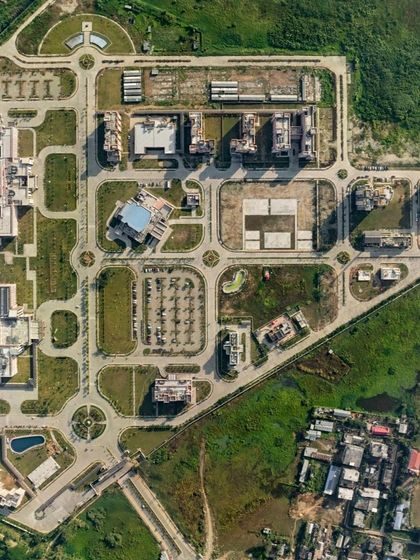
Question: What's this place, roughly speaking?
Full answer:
This looks like a residential area.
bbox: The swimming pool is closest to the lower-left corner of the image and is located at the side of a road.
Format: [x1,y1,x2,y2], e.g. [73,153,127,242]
[10,436,45,452]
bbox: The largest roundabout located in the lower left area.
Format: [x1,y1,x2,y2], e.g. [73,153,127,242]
[71,405,106,440]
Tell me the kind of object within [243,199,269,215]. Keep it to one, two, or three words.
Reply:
sports court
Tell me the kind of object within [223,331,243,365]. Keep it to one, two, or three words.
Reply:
house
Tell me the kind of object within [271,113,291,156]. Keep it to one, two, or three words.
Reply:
building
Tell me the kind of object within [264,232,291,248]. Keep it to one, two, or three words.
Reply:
sports court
